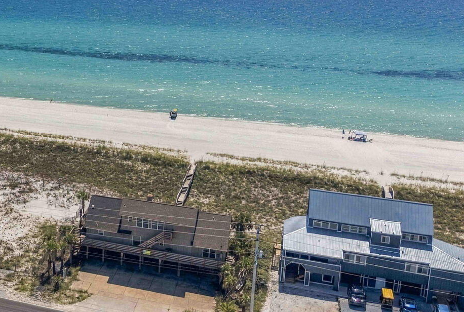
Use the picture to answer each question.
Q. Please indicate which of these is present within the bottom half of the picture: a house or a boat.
house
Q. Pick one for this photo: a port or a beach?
beach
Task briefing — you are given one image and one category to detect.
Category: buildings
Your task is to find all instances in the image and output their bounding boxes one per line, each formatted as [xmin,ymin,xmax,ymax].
[70,191,233,283]
[279,187,464,302]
